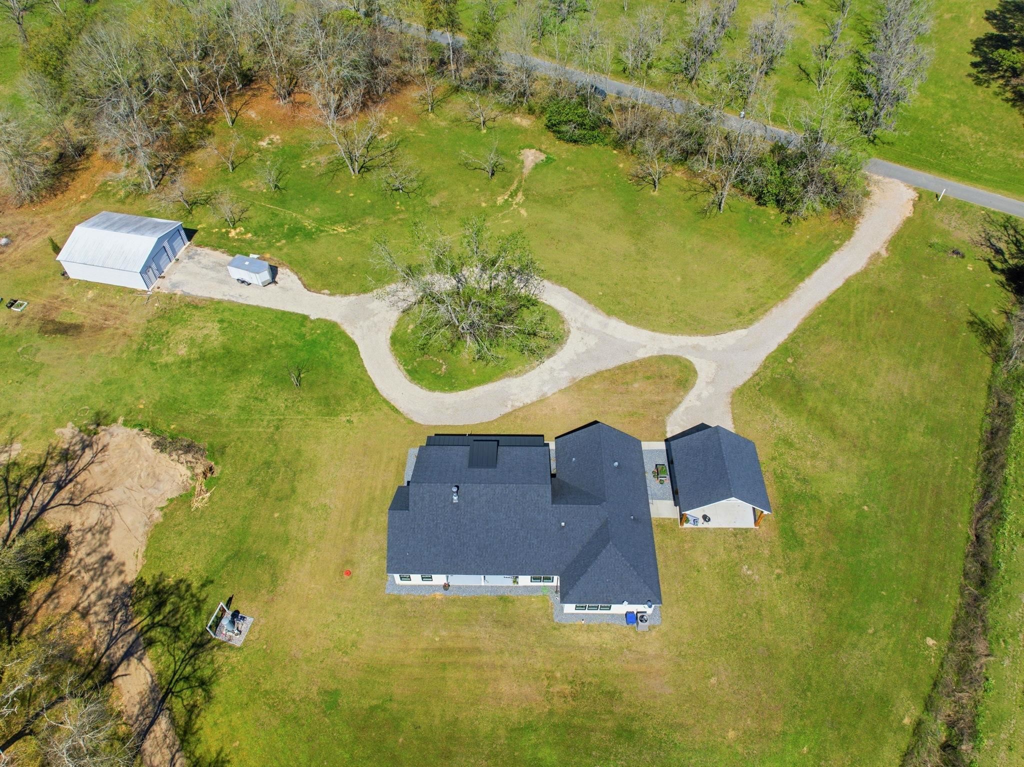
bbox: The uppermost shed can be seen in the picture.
[58,213,190,292]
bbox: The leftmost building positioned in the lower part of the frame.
[387,424,662,614]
